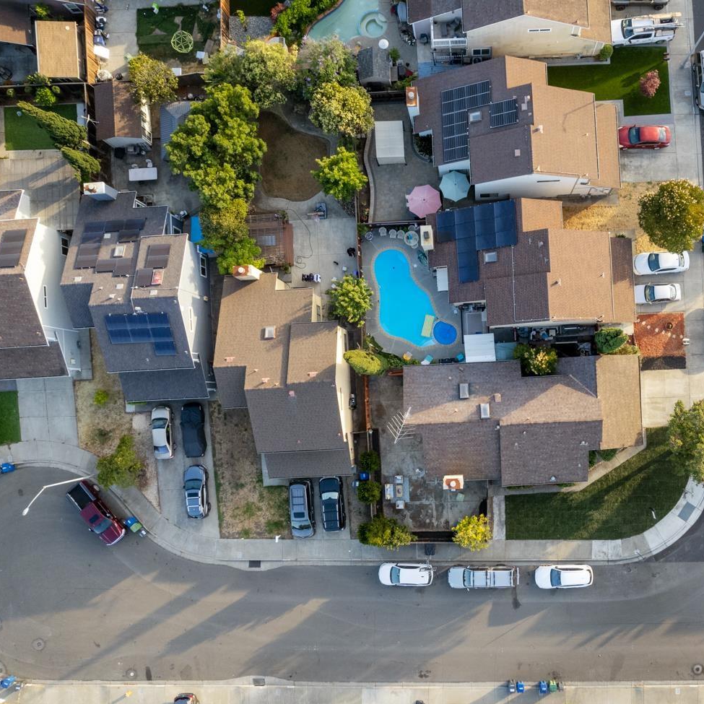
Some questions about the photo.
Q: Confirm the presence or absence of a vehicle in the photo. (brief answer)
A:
Yes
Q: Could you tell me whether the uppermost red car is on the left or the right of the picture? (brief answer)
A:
right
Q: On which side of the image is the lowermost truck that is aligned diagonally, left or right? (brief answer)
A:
left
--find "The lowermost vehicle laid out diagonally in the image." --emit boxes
[67,479,126,546]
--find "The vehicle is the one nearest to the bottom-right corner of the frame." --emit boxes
[534,562,594,592]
